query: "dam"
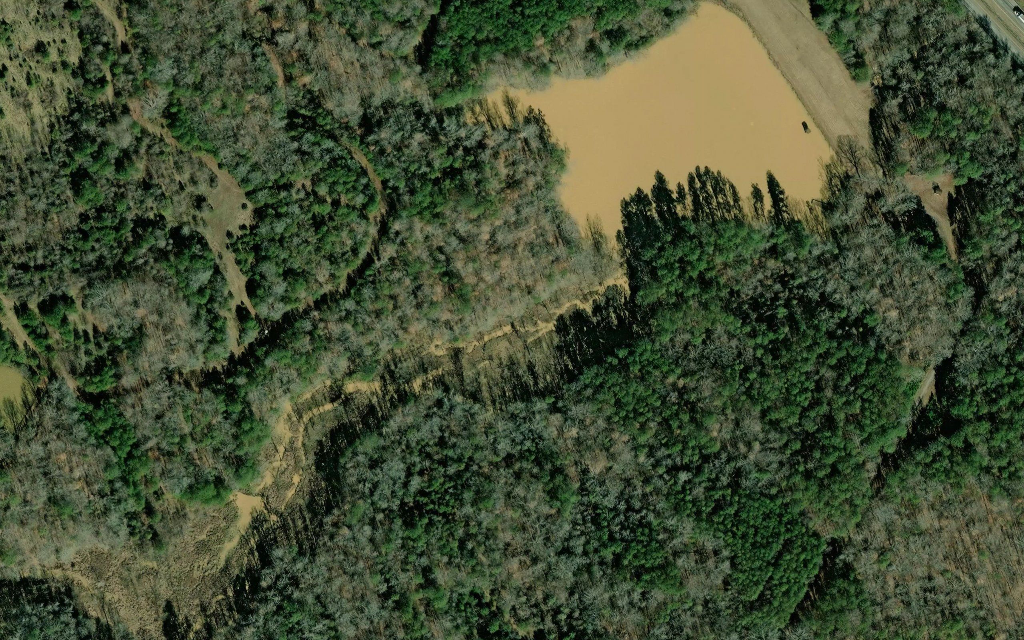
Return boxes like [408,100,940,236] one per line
[713,0,875,178]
